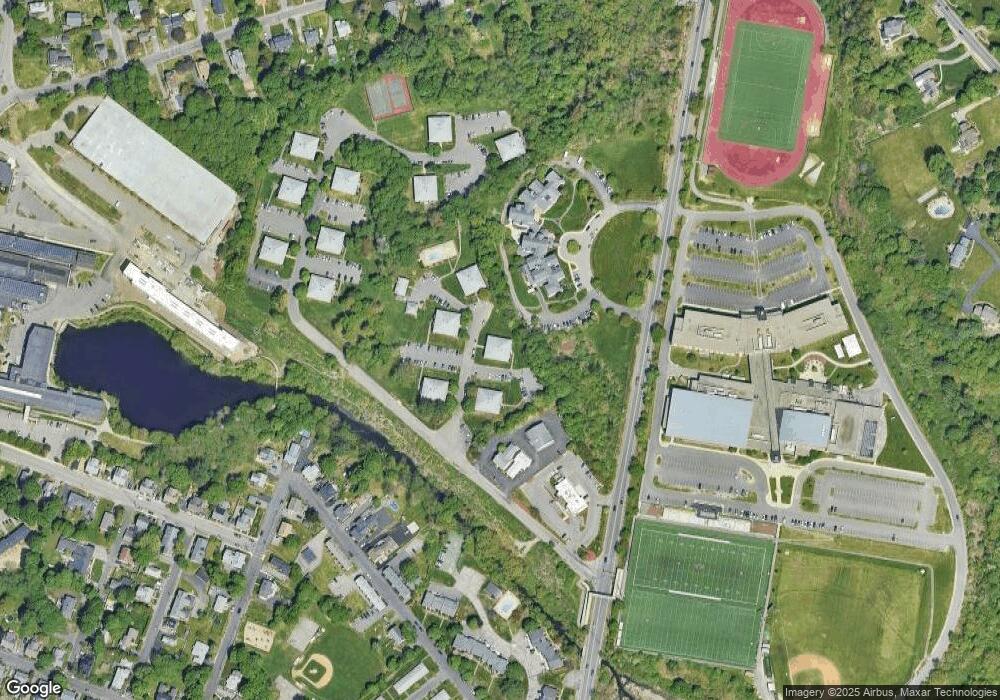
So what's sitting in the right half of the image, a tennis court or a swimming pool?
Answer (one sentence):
What appears in the right half of the image is a swimming pool.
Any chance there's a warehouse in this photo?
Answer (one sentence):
Yes, I can see a warehouse in this picture.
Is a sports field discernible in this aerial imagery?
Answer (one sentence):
Yes, I can see a sports field in this picture.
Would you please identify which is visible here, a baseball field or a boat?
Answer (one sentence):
Looking from above, you can make out a baseball field.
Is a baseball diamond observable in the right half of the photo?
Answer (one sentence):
Yes, a baseball diamond can be seen in the right half of the photo.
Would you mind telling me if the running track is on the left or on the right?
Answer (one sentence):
You can find the running track on the right side of the picture.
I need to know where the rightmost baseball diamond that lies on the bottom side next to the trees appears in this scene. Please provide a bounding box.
[763,548,927,700]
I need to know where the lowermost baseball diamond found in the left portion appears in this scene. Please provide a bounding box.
[292,653,336,700]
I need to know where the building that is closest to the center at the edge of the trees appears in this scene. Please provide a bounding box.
[483,335,513,361]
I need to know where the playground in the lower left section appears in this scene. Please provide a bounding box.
[244,622,274,651]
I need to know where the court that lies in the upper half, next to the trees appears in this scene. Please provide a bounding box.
[366,75,413,120]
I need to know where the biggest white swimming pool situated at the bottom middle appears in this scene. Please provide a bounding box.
[494,592,521,620]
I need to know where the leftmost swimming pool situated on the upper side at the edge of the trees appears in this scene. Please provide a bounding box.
[420,240,457,267]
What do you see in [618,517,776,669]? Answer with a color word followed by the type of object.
green sports field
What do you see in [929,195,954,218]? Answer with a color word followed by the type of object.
white swimming pool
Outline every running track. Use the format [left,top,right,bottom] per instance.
[703,0,832,187]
